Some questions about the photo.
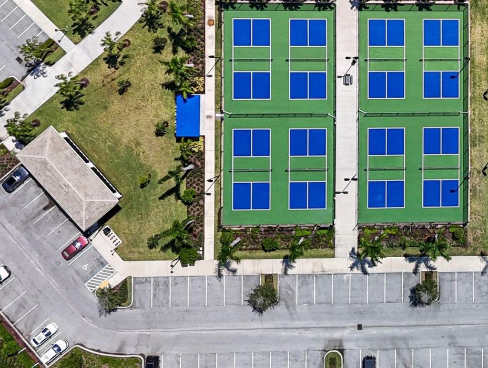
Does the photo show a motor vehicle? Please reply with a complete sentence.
Yes, the photo shows a motor vehicle.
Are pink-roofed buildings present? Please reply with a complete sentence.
No, I find no pink-roofed building anywhere in the image.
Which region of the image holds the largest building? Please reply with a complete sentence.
The largest building is in the left part of the image.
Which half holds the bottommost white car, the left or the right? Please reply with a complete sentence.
It is on the left.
